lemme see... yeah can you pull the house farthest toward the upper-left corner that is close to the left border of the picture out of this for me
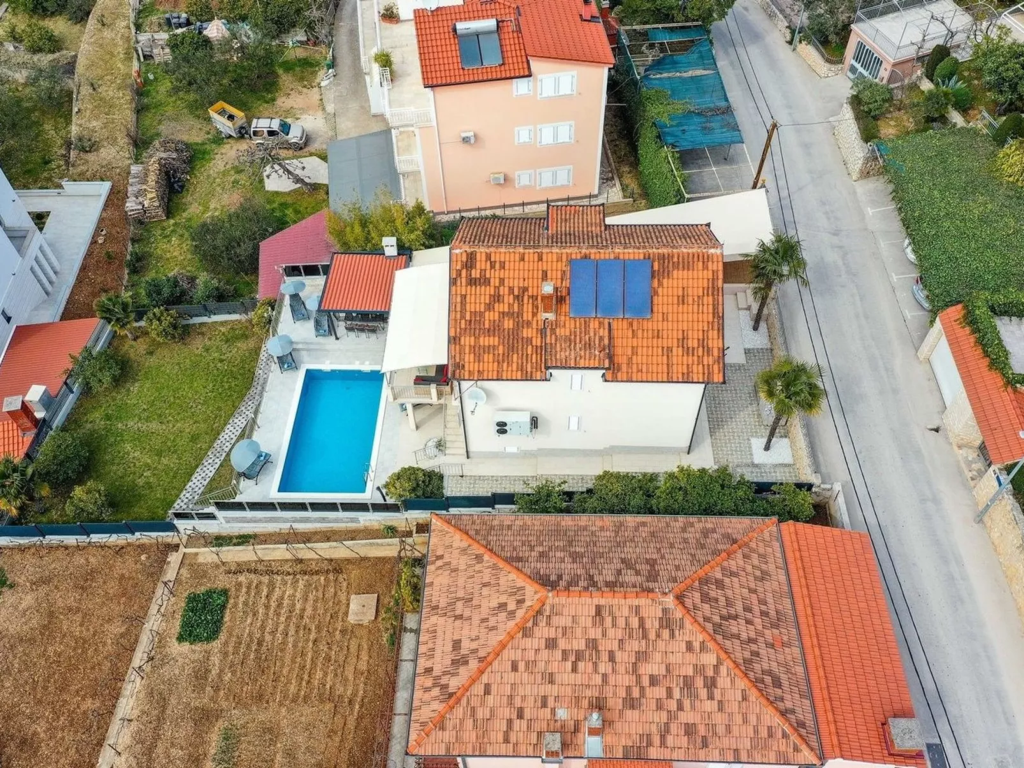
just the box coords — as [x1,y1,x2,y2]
[0,177,66,316]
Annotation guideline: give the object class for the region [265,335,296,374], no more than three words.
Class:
umbrella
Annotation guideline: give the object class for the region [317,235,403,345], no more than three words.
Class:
building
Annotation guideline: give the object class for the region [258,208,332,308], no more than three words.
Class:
shed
